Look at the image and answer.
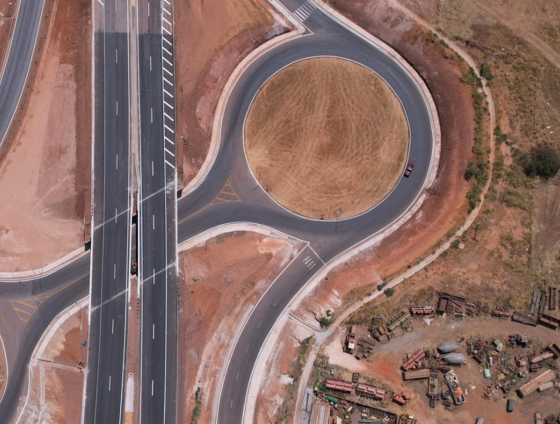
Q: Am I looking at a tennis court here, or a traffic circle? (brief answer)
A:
traffic circle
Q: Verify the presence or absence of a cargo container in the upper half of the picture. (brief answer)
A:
No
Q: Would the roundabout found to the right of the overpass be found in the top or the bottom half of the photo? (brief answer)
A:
top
